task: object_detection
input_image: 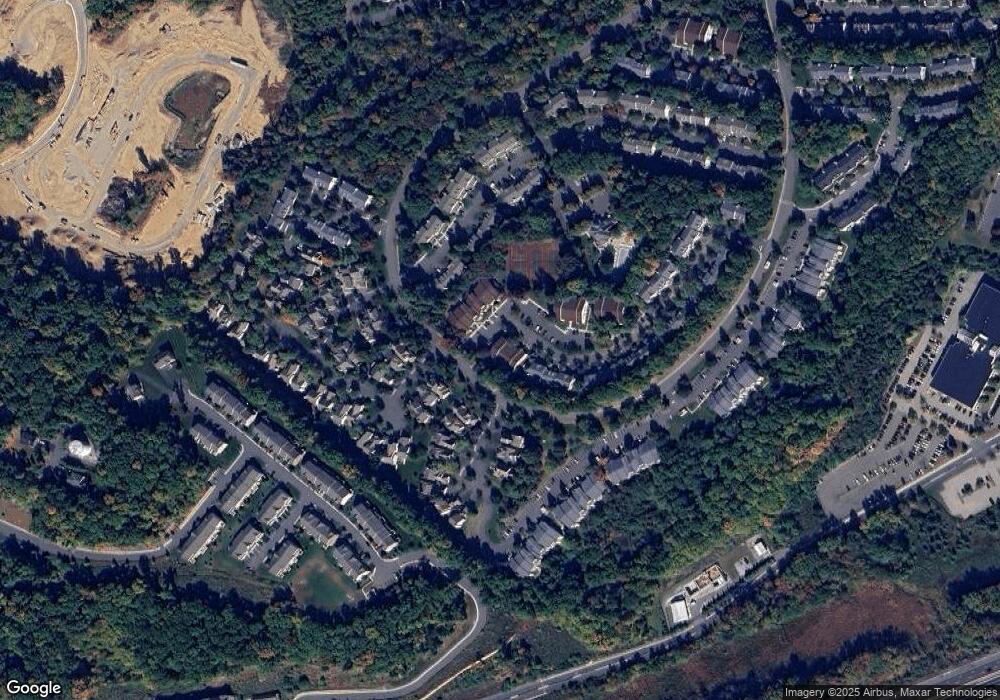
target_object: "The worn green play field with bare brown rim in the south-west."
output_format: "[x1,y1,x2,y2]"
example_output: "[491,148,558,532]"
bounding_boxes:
[291,551,359,608]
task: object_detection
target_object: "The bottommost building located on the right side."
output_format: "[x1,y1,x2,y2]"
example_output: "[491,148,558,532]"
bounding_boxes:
[671,599,691,623]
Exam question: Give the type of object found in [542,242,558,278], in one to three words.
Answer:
tennis court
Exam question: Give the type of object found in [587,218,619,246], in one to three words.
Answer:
house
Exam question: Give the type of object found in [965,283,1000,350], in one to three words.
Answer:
building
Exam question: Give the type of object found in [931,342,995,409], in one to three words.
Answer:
building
